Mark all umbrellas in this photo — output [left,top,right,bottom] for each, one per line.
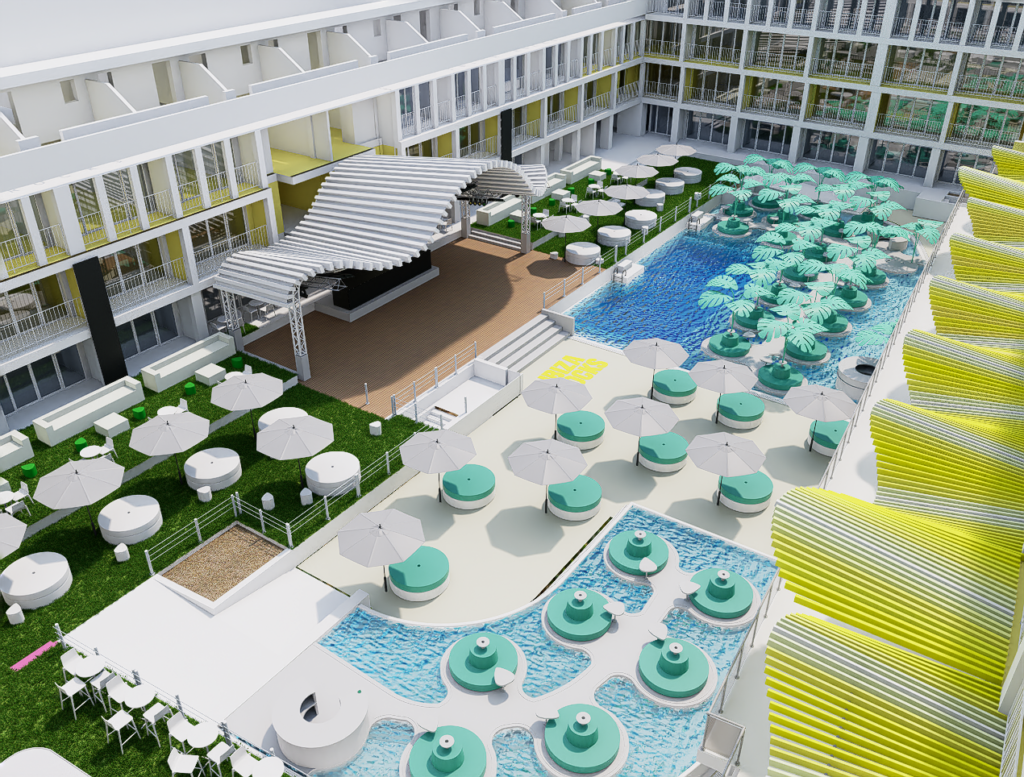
[623,340,690,399]
[613,165,657,186]
[685,435,766,505]
[129,412,209,483]
[635,153,677,170]
[541,217,592,263]
[508,441,588,513]
[521,376,593,440]
[603,185,648,226]
[655,143,696,159]
[688,363,759,424]
[399,432,477,503]
[256,416,334,486]
[31,459,124,535]
[573,201,621,245]
[604,399,679,466]
[0,516,24,561]
[783,387,859,452]
[211,372,282,438]
[337,512,423,592]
